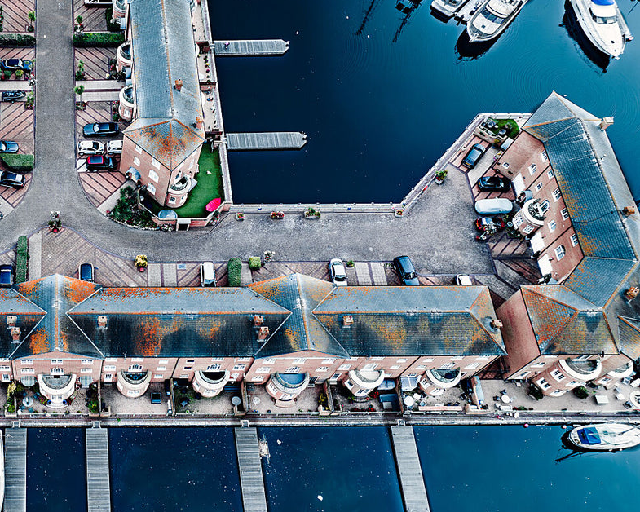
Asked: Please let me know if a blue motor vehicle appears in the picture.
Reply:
Yes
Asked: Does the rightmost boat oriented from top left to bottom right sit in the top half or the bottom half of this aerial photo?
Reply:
top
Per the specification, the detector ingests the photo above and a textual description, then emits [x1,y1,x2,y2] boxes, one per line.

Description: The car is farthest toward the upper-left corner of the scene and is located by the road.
[3,58,32,72]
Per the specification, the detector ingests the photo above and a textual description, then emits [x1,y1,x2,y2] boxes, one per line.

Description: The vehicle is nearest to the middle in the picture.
[327,259,349,286]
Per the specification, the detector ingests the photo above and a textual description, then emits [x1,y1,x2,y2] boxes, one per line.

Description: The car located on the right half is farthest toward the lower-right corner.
[452,273,474,285]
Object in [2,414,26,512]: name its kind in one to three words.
pier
